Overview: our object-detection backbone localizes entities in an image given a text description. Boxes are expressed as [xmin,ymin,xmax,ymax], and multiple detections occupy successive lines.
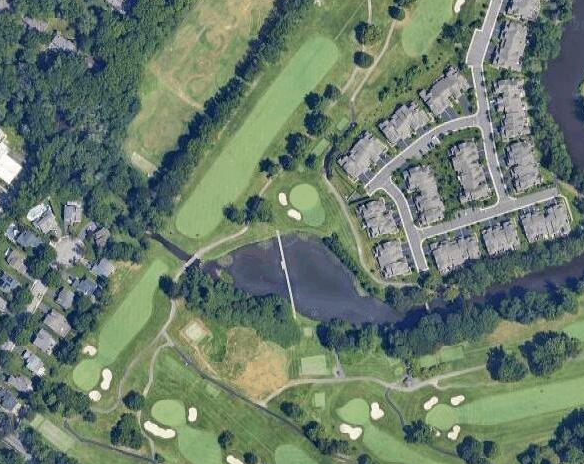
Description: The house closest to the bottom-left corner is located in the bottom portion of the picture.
[0,389,20,414]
